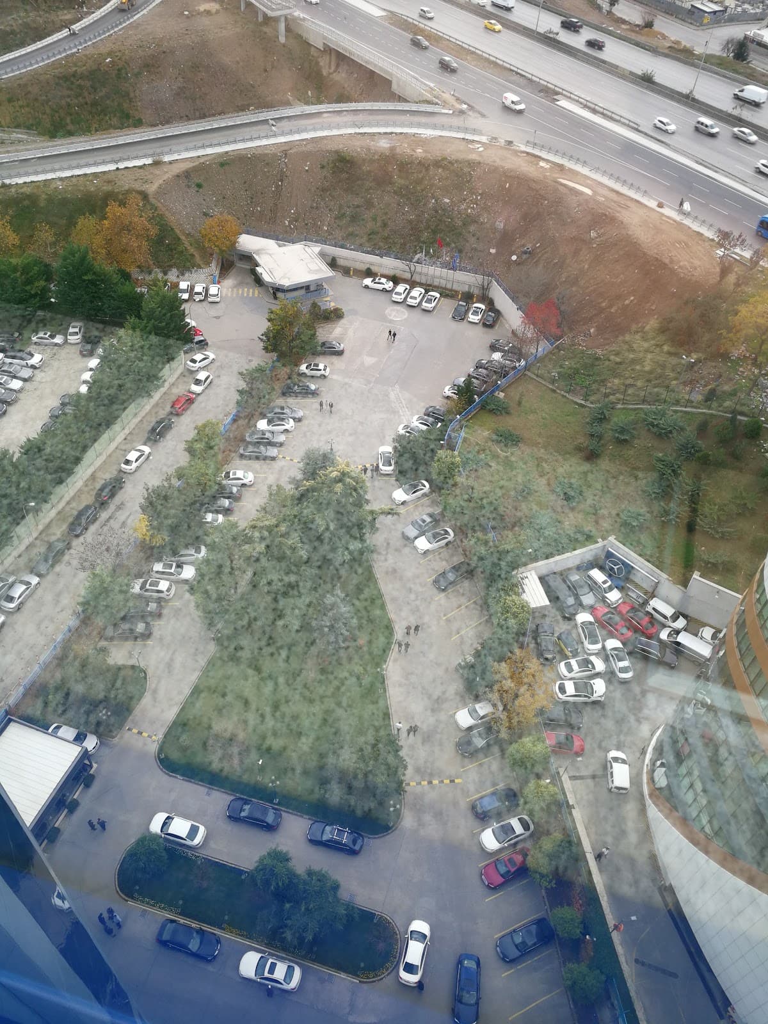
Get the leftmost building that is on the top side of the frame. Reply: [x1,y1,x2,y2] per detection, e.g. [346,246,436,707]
[253,228,336,306]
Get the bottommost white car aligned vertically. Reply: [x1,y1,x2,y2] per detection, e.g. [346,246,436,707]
[399,918,431,990]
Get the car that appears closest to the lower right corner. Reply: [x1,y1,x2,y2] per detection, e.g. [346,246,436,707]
[496,916,557,966]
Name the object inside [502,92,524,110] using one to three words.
vehicle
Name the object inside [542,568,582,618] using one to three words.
van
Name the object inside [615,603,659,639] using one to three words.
car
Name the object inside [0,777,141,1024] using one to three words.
building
